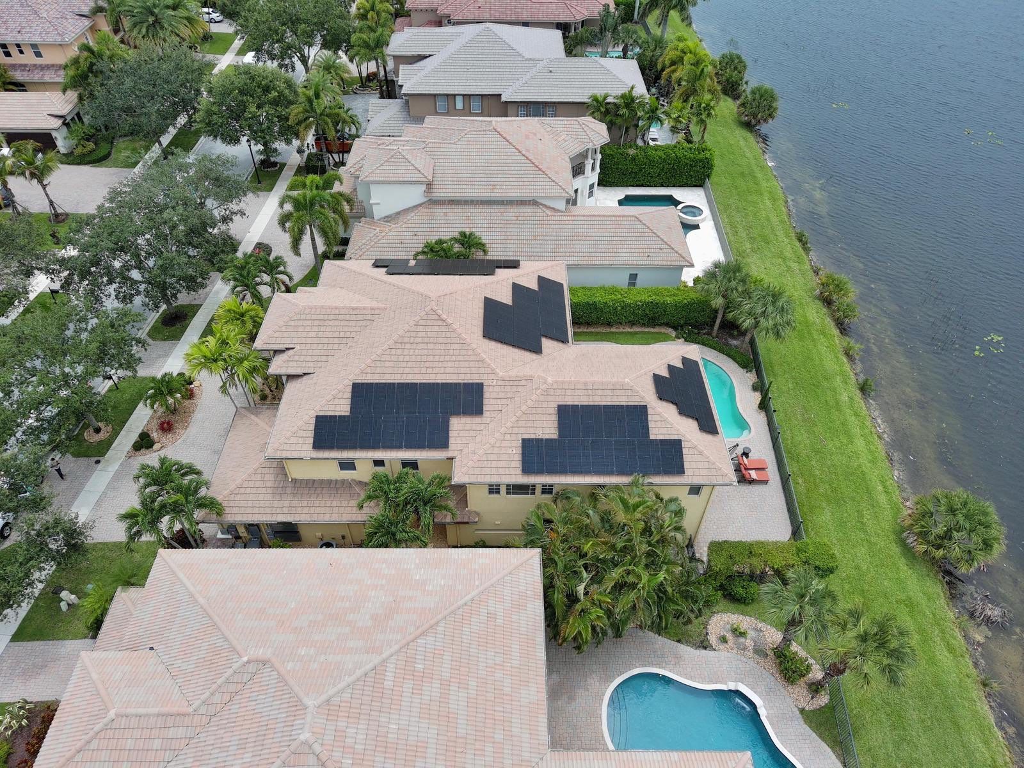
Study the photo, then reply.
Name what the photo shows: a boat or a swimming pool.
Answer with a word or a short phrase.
swimming pool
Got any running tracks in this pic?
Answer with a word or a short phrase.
No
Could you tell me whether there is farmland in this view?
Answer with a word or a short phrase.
No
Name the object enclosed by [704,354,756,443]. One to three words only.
swimming pool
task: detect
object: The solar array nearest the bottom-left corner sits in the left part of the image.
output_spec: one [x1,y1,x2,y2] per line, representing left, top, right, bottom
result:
[311,384,485,450]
